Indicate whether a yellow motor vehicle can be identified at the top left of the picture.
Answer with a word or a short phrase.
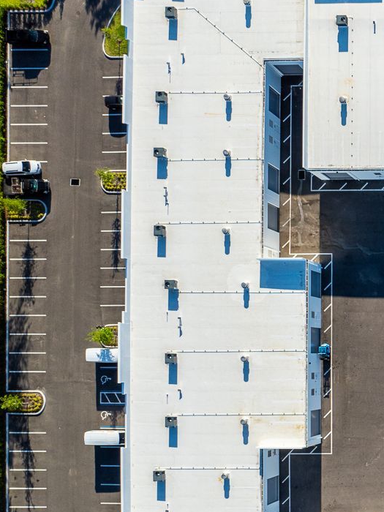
No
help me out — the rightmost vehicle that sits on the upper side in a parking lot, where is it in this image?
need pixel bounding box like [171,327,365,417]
[105,96,125,111]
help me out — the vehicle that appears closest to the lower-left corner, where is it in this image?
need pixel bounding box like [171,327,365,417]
[87,429,126,446]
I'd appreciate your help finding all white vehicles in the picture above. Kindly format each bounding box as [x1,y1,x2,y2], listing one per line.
[87,429,126,446]
[3,159,43,176]
[88,347,118,362]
